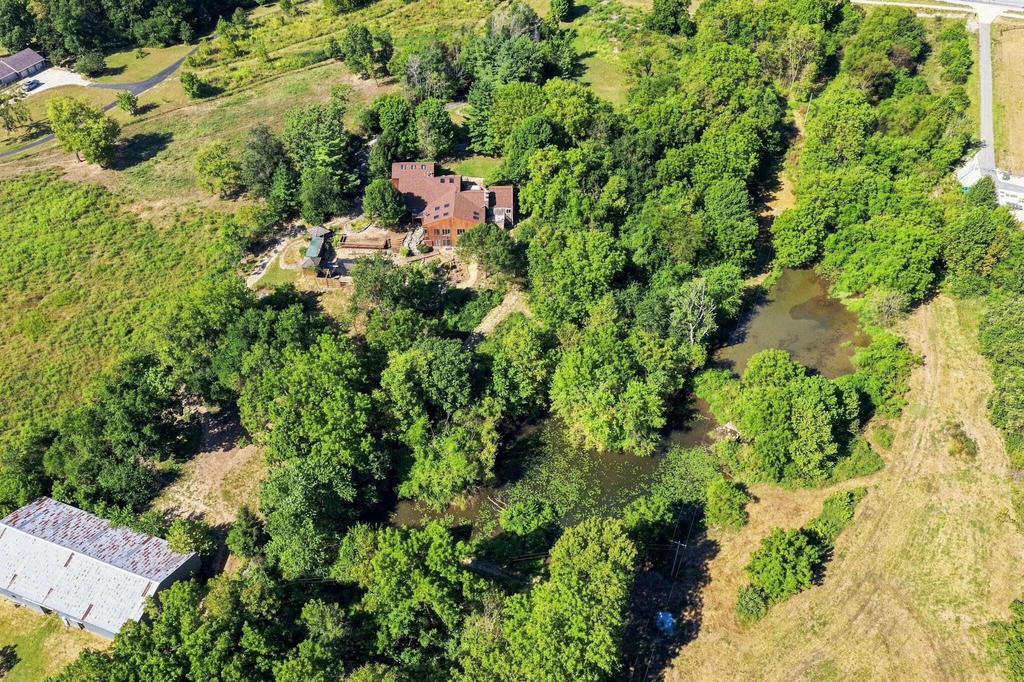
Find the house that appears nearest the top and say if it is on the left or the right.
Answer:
left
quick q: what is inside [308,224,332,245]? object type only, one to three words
building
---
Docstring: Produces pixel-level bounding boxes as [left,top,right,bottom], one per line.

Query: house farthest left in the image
[0,49,49,88]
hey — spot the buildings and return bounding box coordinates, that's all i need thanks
[0,49,49,88]
[0,487,200,655]
[296,259,321,282]
[390,162,514,249]
[308,224,332,245]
